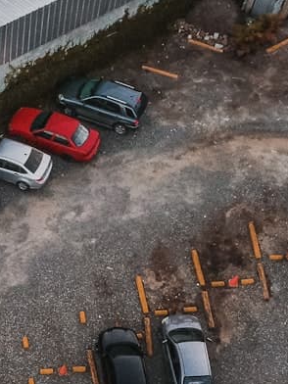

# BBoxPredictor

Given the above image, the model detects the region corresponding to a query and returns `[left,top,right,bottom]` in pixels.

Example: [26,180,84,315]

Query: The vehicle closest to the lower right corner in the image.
[160,314,218,384]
